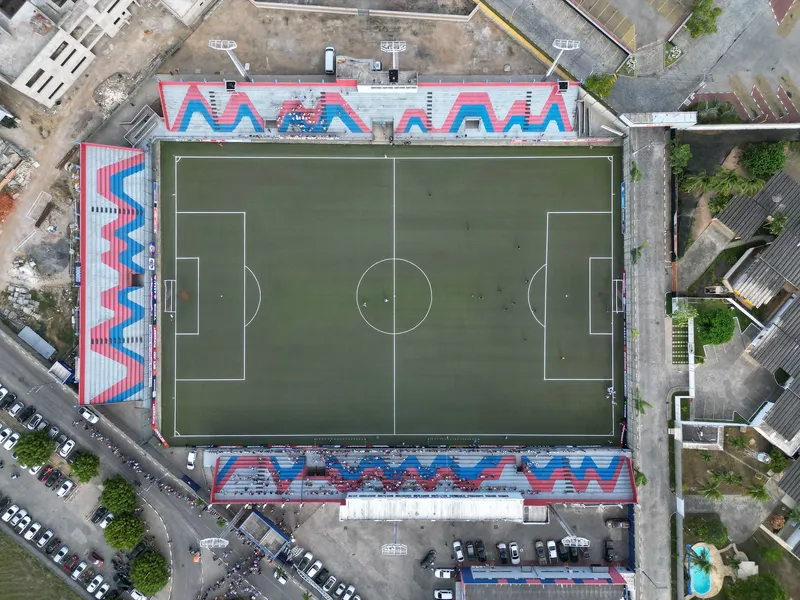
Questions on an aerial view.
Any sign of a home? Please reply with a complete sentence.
Yes, there's a home down there.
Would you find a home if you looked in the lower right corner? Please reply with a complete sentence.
Yes, a home appears in the lower right corner.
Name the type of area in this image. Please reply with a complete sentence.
The picture captures a sports ground.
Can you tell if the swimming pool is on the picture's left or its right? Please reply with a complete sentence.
The swimming pool appears in the right half of the scene.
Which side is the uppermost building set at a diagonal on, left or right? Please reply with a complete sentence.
The uppermost building set at a diagonal appears in the left half of the scene.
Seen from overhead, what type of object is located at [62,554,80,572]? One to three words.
car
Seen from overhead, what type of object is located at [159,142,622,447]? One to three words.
soccer field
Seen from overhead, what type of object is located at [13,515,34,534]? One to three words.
vehicle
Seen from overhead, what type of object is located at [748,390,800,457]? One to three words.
house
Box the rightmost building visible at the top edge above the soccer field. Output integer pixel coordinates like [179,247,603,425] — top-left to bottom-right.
[161,0,217,30]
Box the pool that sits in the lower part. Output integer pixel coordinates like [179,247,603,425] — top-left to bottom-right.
[687,542,724,600]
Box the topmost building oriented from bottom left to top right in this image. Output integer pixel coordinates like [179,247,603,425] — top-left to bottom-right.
[12,0,142,110]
